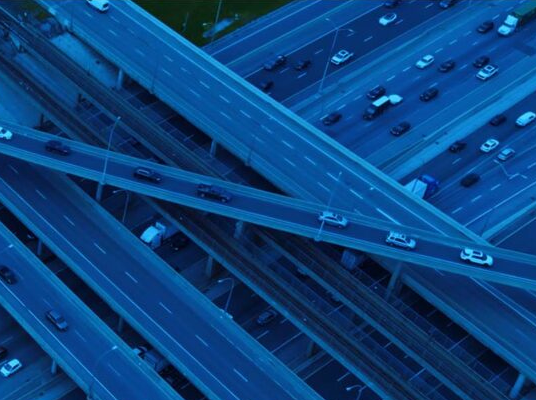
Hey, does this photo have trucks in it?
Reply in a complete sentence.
Yes, this view includes a truck.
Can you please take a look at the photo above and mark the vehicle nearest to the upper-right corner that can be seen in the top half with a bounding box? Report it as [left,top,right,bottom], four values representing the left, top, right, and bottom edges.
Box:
[495,0,536,38]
